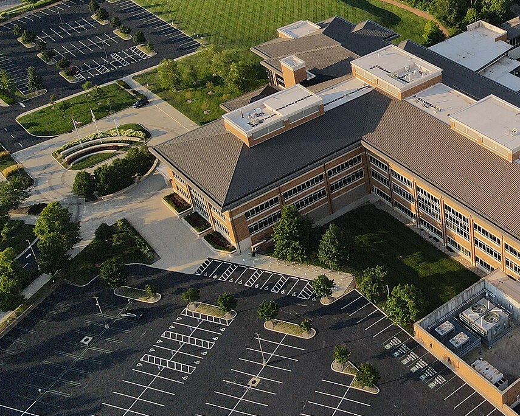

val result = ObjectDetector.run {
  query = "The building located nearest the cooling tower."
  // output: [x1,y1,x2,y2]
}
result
[147,14,520,303]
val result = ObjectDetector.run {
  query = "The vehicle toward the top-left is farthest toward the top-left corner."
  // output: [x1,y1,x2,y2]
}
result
[132,93,149,106]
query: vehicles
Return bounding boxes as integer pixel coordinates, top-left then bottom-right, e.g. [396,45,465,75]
[117,305,145,321]
[132,93,149,106]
